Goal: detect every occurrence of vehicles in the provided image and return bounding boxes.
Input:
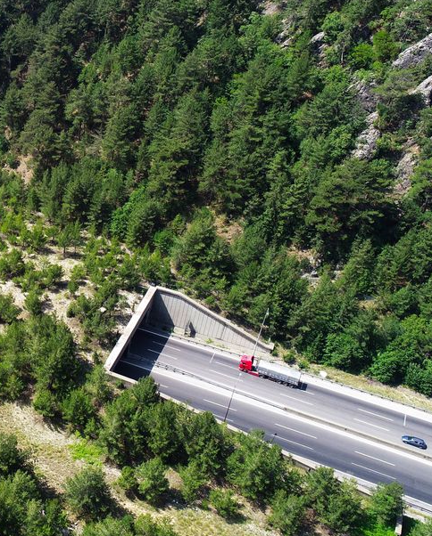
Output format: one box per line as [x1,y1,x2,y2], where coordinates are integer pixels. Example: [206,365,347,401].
[243,354,306,388]
[404,436,429,450]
